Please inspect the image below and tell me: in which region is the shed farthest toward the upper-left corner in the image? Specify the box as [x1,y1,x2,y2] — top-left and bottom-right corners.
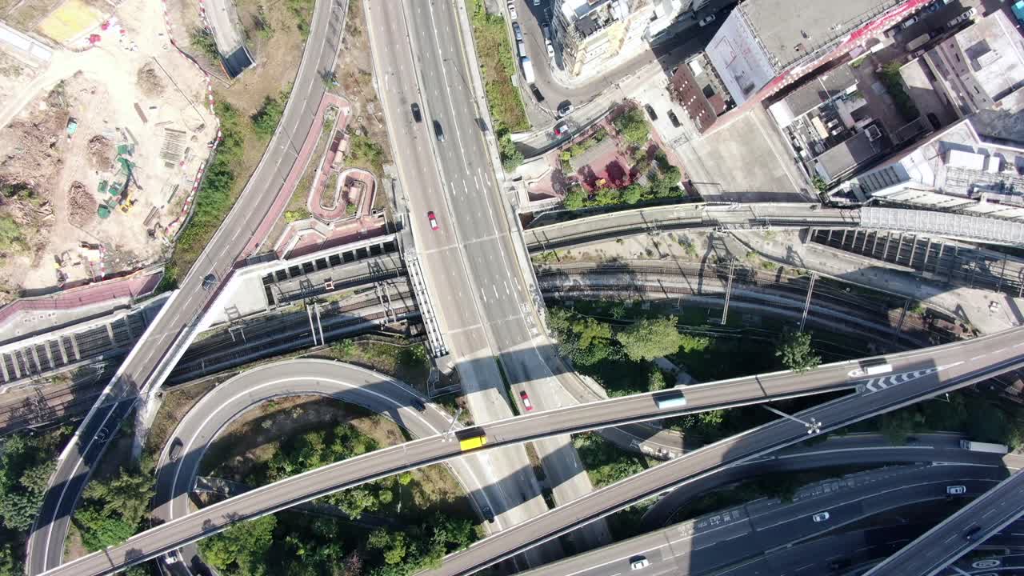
[0,19,58,67]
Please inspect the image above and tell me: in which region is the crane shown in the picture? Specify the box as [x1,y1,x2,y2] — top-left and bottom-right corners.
[109,153,142,199]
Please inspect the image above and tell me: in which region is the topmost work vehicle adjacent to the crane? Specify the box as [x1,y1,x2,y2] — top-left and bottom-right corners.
[113,184,140,214]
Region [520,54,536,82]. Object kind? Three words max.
vehicle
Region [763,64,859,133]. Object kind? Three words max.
building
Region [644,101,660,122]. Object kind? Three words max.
car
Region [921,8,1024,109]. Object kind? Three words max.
building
